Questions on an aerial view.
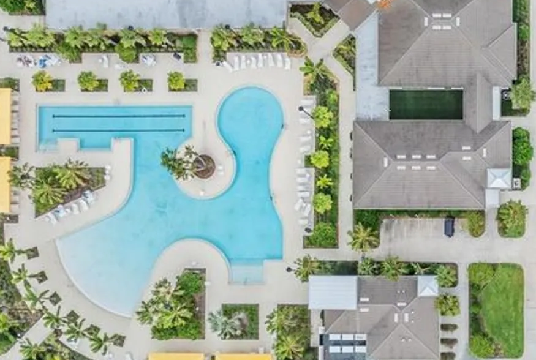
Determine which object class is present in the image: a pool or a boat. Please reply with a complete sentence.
Looking from above, you can make out a pool.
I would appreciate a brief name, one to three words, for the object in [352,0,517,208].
building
